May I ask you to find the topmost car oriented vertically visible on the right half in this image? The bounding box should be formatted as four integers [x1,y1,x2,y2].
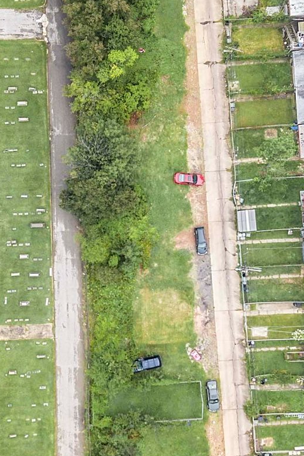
[193,224,210,256]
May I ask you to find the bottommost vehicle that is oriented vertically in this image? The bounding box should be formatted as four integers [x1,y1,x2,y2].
[205,378,221,411]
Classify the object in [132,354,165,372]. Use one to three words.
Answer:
car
